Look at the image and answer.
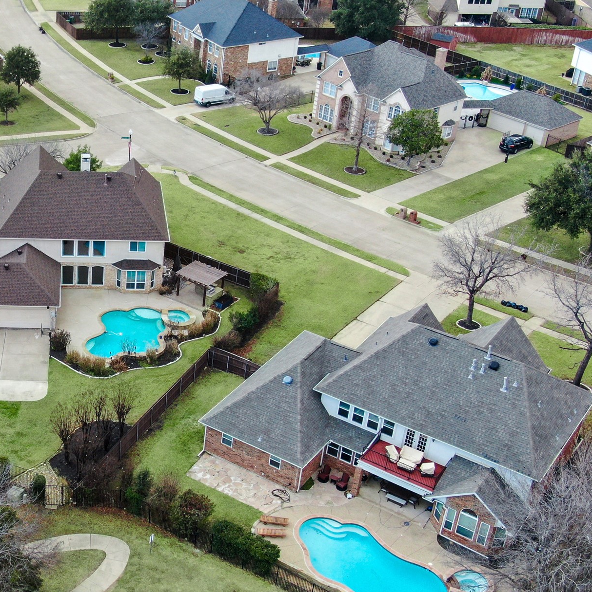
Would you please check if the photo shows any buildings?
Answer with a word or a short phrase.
Yes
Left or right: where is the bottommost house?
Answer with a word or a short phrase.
right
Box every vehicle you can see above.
[449,16,479,28]
[194,77,240,105]
[501,129,537,151]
